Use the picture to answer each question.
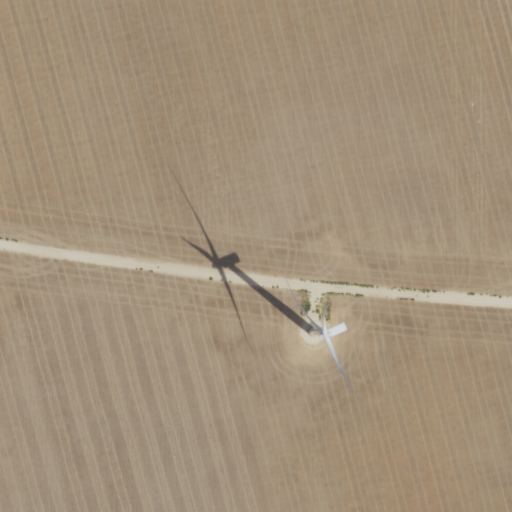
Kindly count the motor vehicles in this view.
0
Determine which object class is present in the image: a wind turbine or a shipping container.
wind turbine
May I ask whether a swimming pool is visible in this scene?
No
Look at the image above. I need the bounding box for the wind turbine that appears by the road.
[276,244,366,416]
